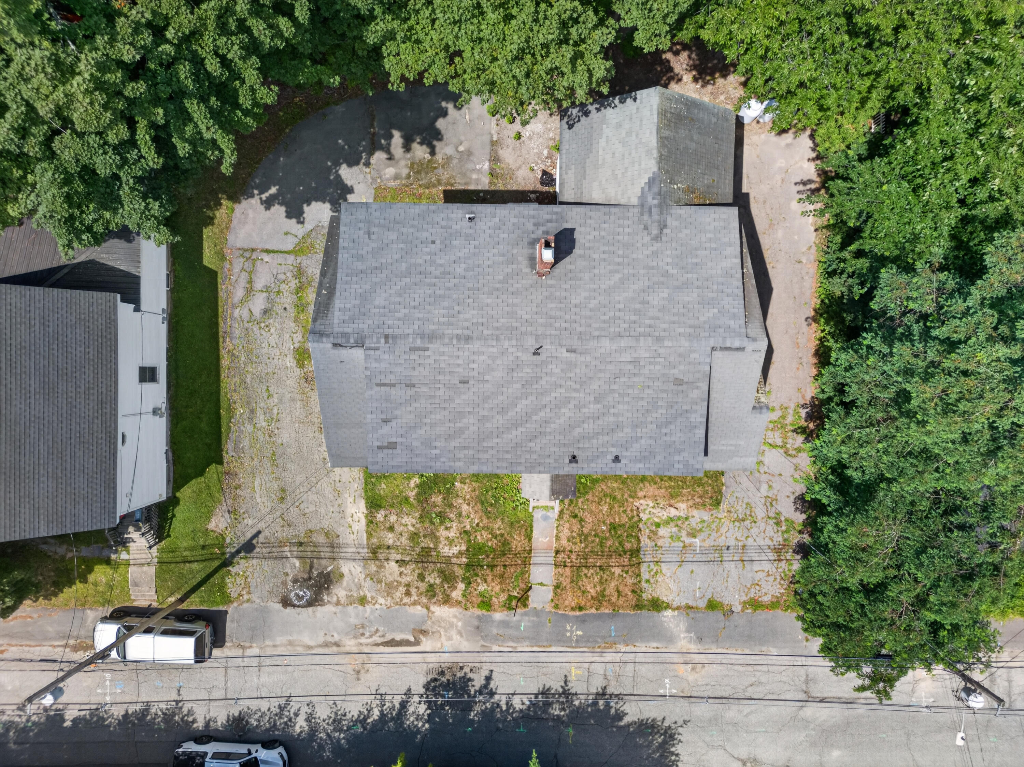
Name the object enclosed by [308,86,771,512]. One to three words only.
house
